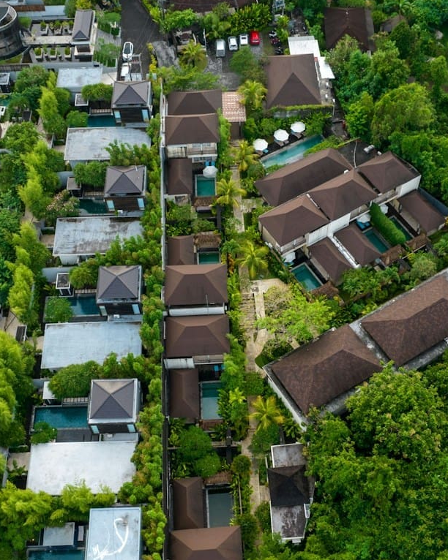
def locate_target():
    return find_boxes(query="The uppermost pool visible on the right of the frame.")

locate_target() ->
[264,134,323,168]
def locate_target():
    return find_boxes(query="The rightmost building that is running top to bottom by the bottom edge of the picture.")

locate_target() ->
[266,443,313,547]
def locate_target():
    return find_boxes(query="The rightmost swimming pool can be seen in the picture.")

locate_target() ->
[391,215,414,241]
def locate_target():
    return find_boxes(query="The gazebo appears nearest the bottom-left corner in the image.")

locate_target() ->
[43,523,77,550]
